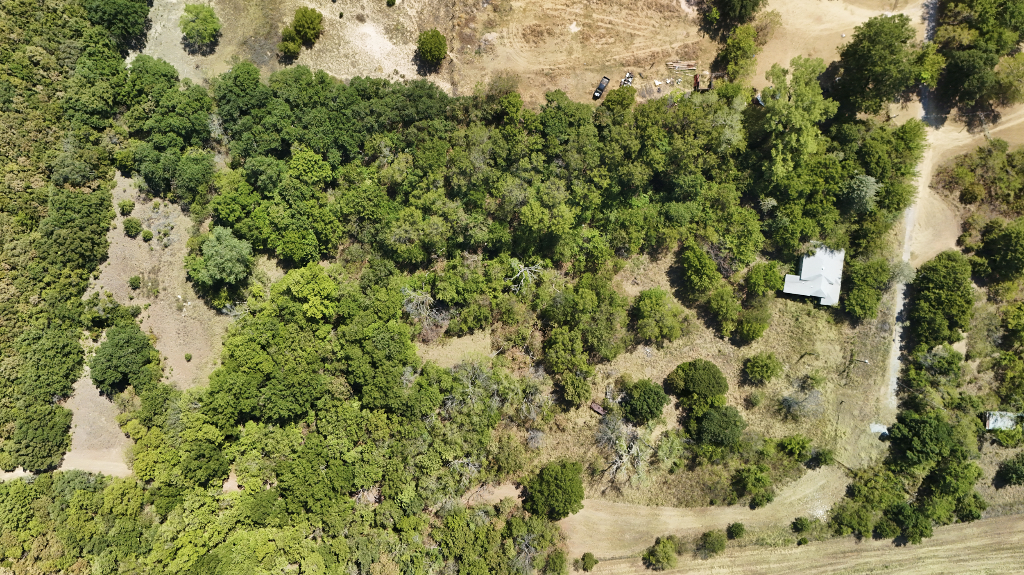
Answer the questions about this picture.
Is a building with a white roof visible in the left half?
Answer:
No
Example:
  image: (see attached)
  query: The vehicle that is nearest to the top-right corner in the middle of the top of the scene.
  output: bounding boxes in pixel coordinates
[593,75,610,99]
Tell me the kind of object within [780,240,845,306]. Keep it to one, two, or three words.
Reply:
house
